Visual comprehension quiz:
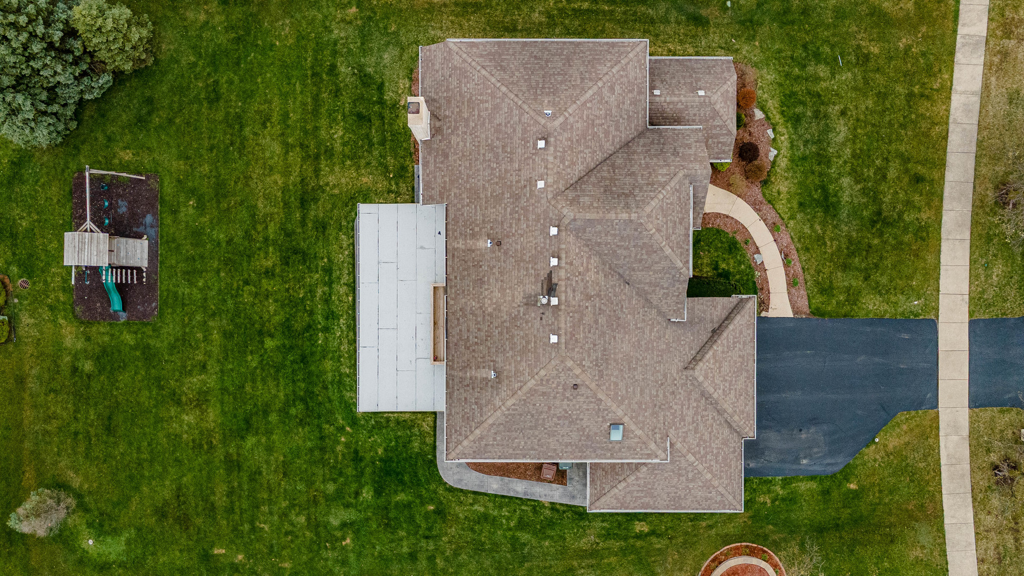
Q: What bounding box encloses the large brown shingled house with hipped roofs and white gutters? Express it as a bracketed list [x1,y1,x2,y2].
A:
[407,37,759,514]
